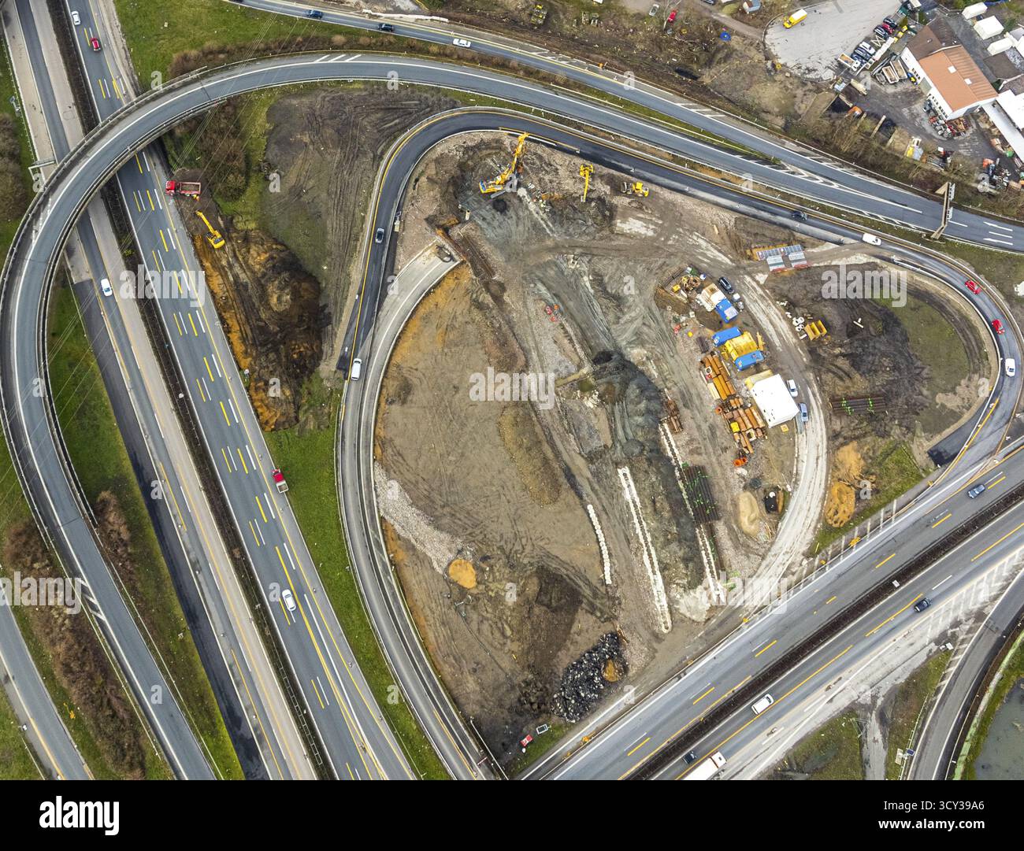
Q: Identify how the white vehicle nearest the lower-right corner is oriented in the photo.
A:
diagonally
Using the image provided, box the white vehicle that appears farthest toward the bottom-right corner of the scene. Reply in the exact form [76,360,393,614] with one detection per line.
[751,693,775,715]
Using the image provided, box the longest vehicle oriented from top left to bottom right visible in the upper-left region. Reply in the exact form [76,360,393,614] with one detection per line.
[199,215,226,248]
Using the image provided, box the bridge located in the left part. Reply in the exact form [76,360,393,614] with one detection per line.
[0,64,224,547]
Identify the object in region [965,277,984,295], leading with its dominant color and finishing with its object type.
red car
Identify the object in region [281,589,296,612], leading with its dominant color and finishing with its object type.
white car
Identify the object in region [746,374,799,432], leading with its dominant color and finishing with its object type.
white tent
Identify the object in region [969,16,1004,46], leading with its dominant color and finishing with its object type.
white tent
